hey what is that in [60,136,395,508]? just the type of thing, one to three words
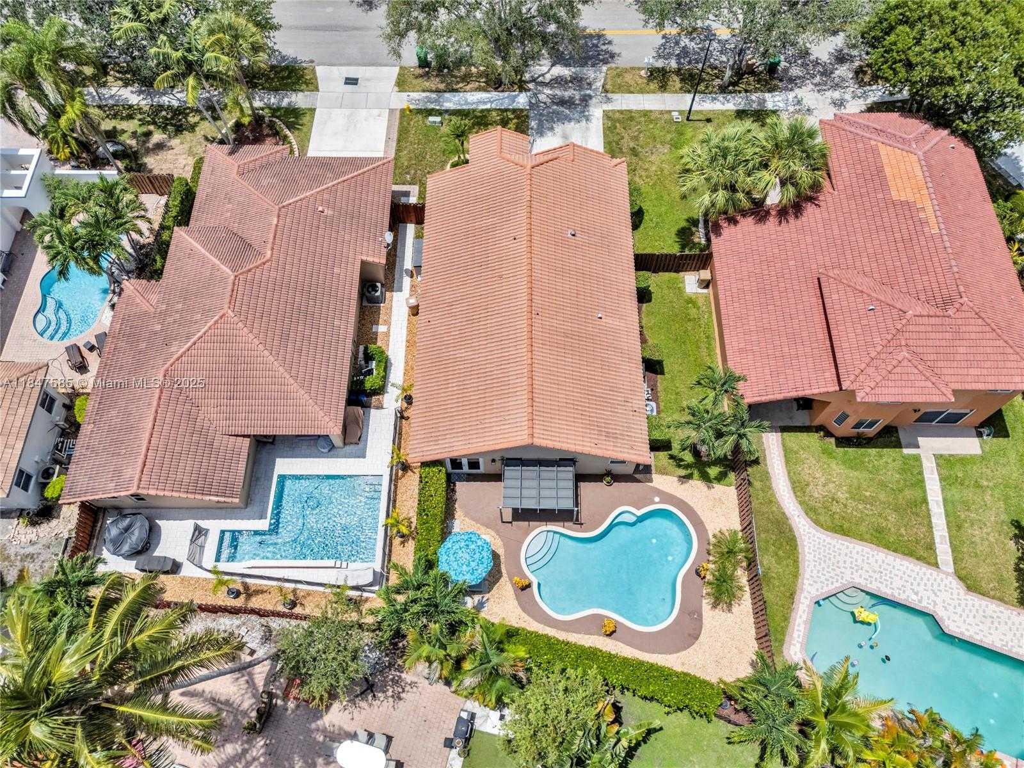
house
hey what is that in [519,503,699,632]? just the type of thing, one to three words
swimming pool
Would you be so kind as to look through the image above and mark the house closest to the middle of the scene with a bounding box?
[407,126,652,476]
